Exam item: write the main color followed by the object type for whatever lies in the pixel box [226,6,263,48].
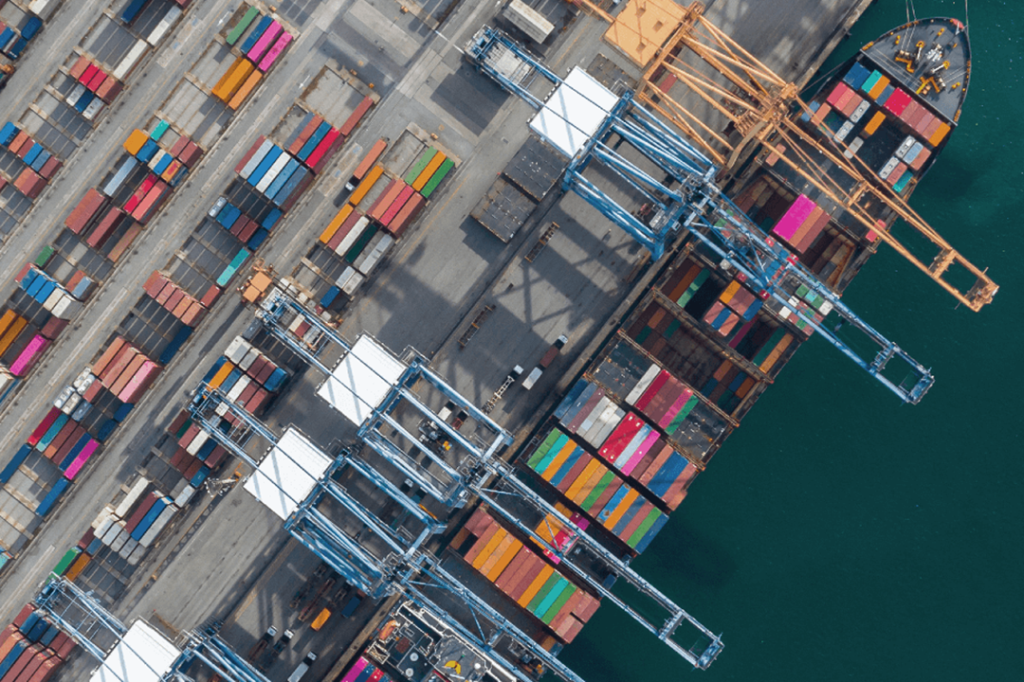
green shipping container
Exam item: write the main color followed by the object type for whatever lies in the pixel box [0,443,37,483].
blue shipping container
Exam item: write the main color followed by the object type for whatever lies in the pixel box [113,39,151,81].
white shipping container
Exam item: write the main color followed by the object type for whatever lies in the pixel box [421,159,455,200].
green shipping container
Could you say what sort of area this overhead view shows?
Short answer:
port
